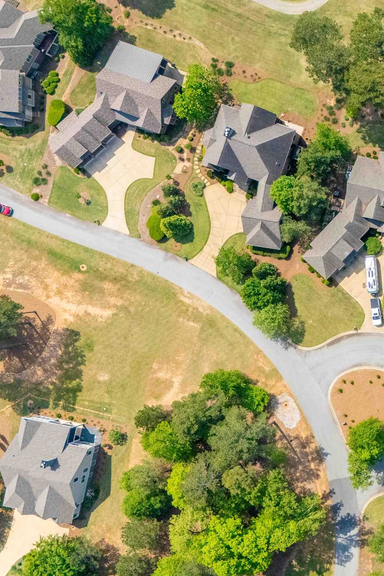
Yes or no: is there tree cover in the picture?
Yes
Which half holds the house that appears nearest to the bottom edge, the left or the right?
left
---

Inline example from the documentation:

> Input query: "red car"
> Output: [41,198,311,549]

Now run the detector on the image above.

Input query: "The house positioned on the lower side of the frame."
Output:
[0,414,103,523]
